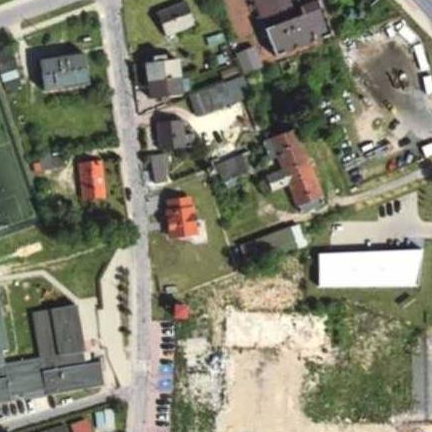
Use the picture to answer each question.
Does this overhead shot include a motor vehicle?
Yes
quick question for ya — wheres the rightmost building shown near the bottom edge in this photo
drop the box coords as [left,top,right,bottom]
[94,410,116,430]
